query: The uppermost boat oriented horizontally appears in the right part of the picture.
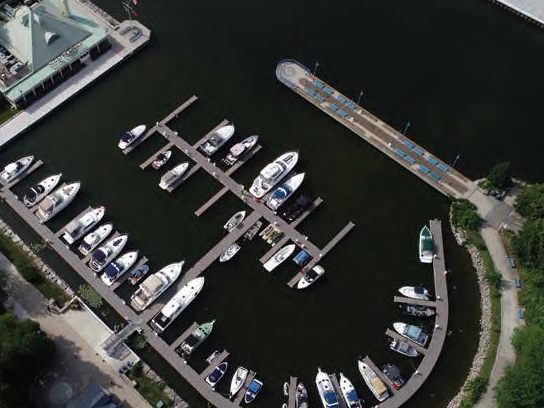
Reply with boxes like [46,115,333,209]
[398,286,432,300]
